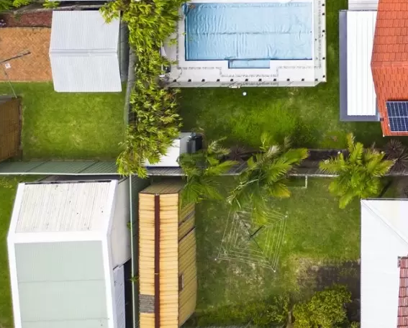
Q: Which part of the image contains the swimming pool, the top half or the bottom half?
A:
top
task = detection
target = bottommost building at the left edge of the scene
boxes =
[4,168,142,328]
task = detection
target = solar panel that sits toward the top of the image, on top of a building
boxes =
[388,103,408,135]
